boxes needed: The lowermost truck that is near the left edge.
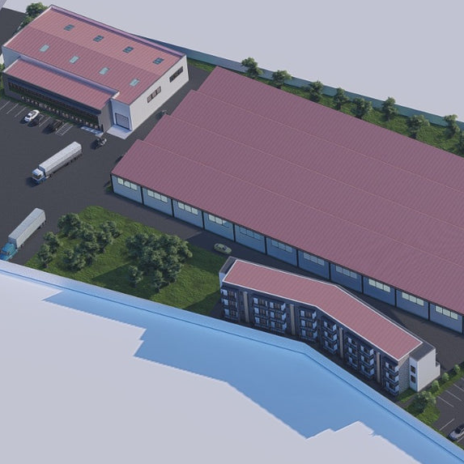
[0,209,48,261]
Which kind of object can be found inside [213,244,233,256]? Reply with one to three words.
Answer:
vehicle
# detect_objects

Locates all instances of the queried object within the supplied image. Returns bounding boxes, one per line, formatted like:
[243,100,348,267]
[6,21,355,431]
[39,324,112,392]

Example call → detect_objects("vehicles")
[31,114,48,127]
[157,106,171,118]
[33,142,83,185]
[116,149,125,162]
[213,244,233,256]
[0,209,48,261]
[451,424,464,439]
[23,110,40,123]
[95,133,110,145]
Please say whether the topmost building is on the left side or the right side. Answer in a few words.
left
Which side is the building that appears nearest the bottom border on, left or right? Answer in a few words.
right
